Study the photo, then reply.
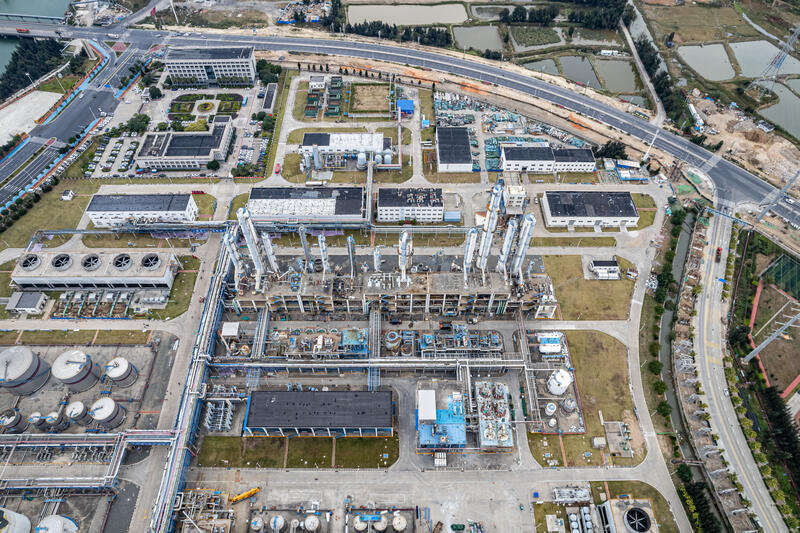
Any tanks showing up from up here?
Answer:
Yes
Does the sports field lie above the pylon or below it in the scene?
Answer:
below it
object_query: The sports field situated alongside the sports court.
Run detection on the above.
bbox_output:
[748,278,800,399]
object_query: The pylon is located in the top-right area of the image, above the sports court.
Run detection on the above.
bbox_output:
[745,23,800,99]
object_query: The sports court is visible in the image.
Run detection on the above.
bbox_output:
[759,252,800,298]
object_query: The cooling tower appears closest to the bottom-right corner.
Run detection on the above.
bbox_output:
[592,499,661,533]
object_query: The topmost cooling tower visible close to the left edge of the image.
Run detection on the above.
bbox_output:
[10,249,186,292]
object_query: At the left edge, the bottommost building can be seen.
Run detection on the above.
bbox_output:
[5,292,52,314]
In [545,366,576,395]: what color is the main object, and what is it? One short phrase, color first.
white storage tank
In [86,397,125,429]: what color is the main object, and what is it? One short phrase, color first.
white storage tank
